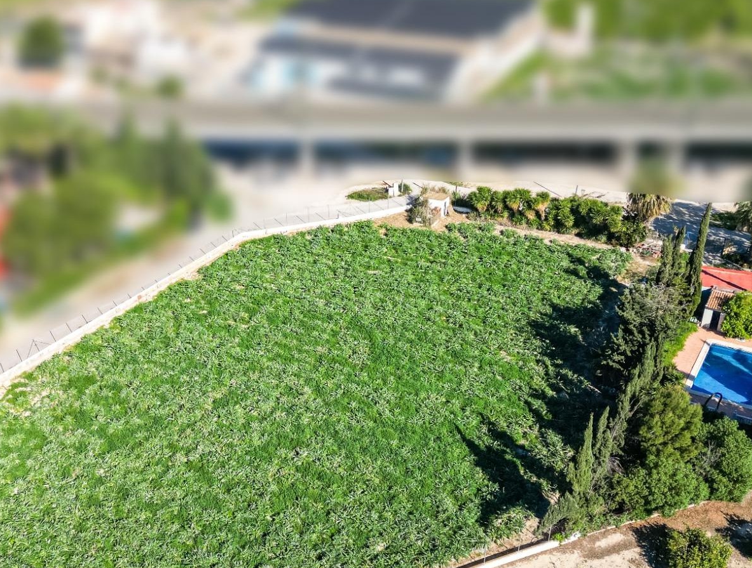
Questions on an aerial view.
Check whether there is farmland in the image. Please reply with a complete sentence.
Yes, farmland shows up in the scene.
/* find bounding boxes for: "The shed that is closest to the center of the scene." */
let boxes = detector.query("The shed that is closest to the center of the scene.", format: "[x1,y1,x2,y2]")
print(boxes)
[424,191,449,218]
